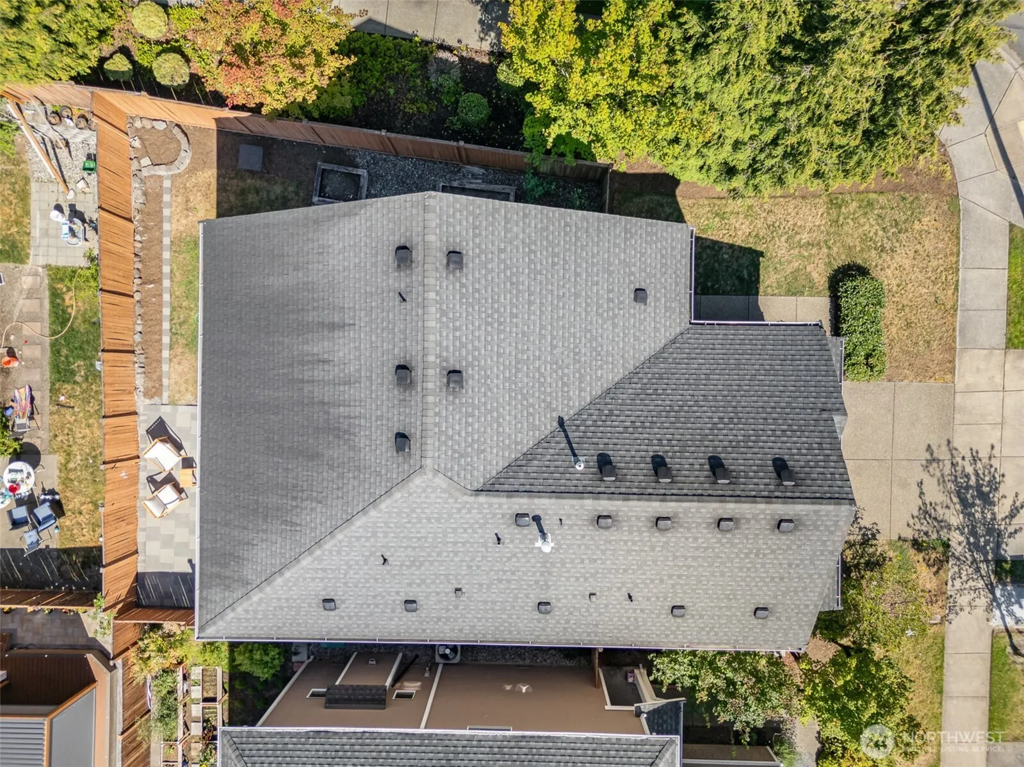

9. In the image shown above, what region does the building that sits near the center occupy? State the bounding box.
[190,192,856,654]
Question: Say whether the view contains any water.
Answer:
No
